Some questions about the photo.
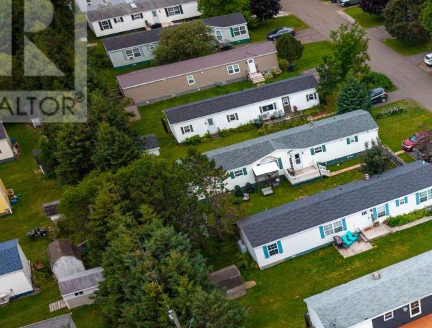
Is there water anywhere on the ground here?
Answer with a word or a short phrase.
No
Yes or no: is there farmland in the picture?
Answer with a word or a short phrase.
No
